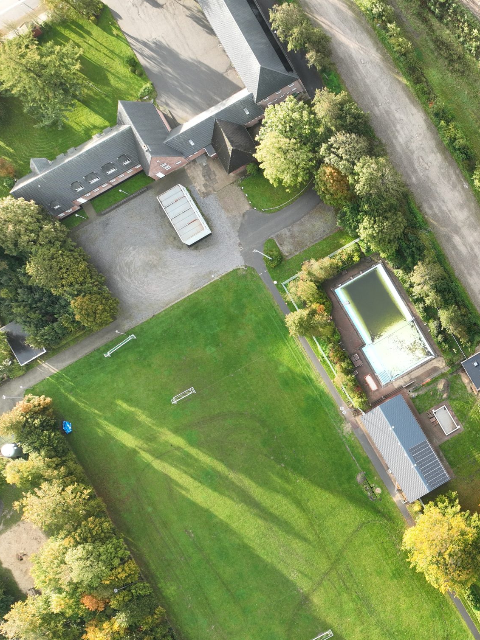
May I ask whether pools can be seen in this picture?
Yes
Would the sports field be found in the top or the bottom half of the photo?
bottom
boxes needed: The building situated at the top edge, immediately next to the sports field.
[8,0,305,225]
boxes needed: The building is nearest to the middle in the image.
[156,184,215,244]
